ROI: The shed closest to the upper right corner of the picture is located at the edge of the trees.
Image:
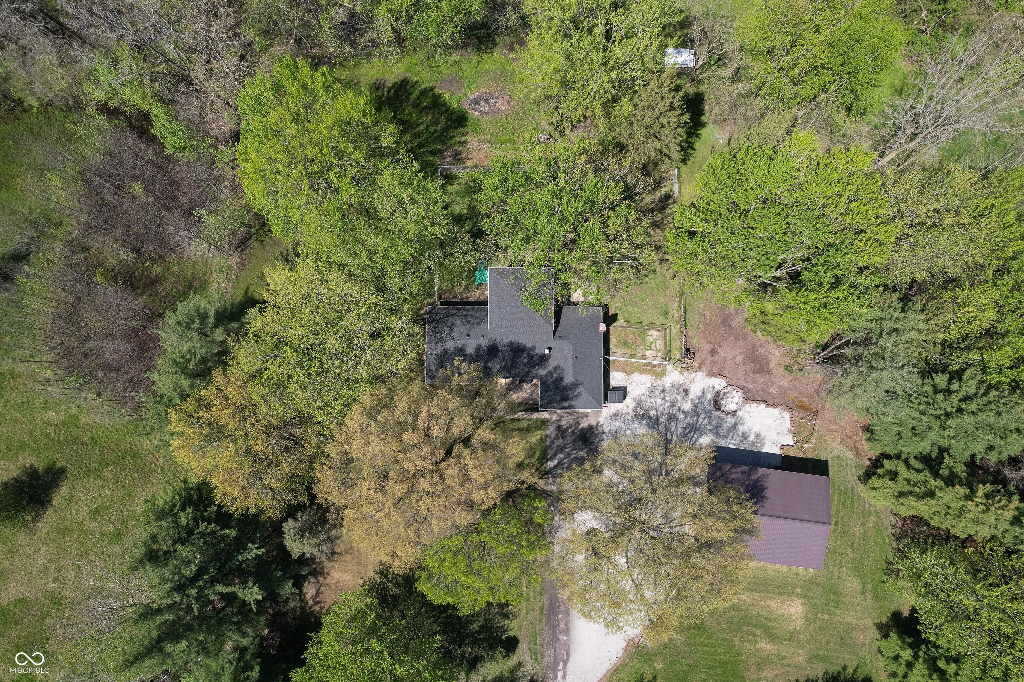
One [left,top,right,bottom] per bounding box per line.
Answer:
[662,48,695,74]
